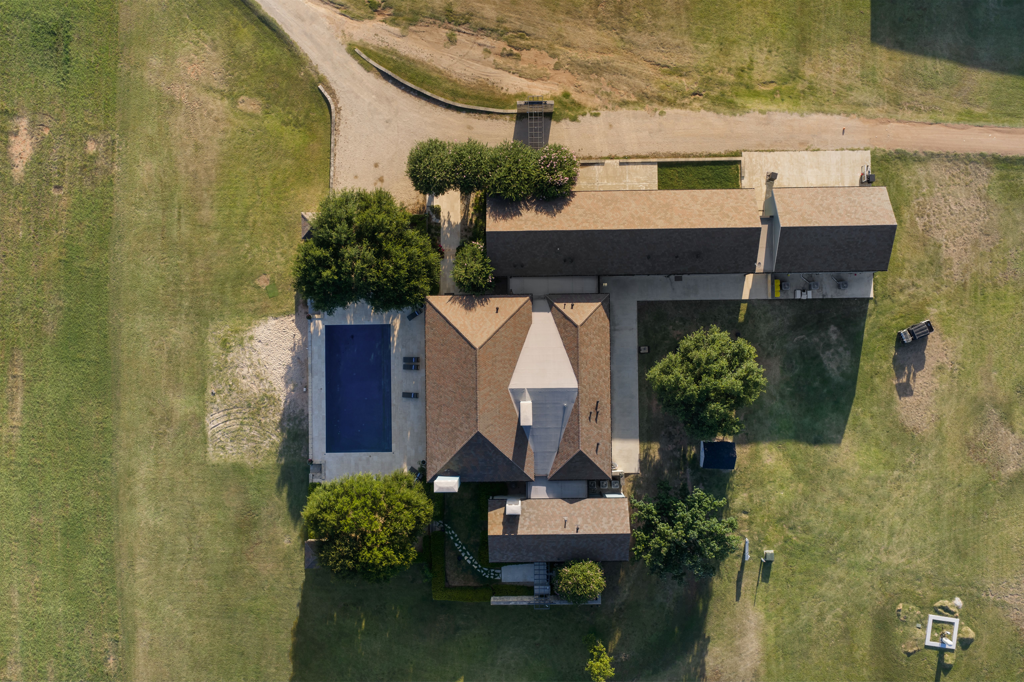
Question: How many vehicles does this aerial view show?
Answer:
one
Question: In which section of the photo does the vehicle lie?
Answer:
right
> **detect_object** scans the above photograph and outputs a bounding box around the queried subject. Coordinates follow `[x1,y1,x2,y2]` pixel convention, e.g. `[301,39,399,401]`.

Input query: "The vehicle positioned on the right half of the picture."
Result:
[898,319,934,343]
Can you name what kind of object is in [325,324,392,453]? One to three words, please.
swimming pool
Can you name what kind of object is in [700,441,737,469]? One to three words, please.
shed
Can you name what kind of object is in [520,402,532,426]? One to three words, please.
chimney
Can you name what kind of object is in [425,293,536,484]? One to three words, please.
house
